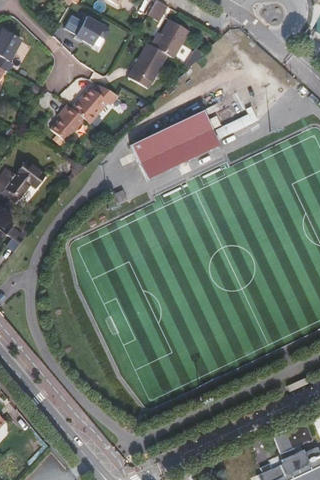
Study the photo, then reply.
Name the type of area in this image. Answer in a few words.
sports ground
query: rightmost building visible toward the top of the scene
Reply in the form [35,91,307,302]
[216,107,258,140]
